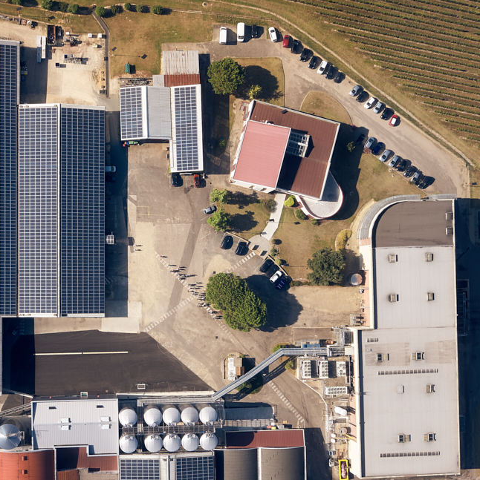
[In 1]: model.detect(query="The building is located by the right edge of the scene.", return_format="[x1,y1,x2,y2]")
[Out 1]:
[345,194,466,480]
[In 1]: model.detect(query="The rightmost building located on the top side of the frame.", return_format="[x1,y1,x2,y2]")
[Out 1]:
[226,98,344,220]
